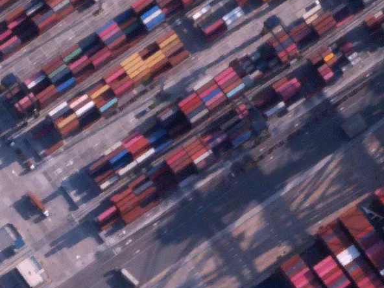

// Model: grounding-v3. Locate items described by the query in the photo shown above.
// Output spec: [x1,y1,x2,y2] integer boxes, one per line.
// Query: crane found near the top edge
[259,10,301,67]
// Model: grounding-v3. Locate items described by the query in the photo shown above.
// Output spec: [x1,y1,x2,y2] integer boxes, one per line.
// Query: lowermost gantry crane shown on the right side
[222,85,264,143]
